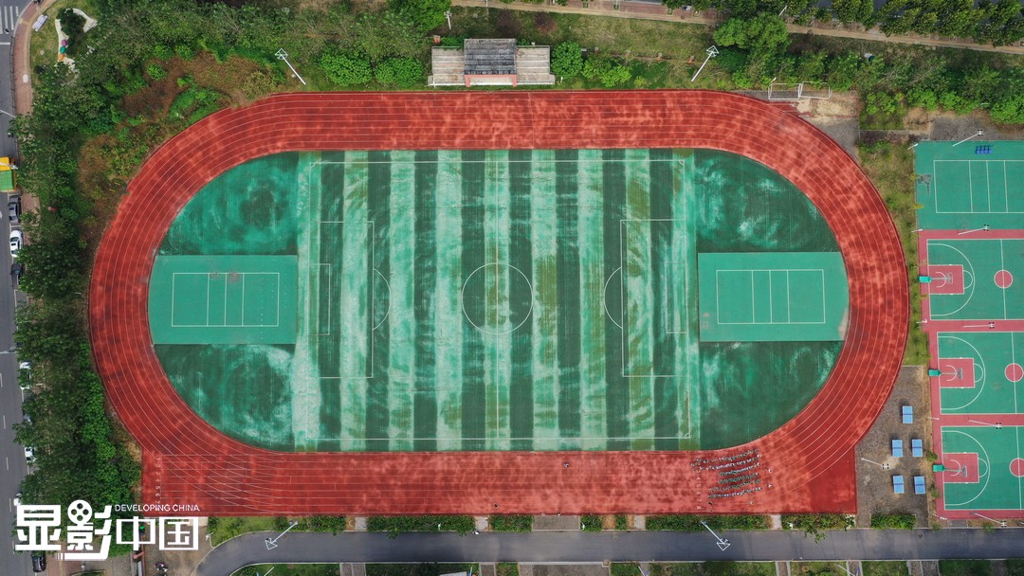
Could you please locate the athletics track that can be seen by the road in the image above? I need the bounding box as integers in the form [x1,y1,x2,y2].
[90,93,909,519]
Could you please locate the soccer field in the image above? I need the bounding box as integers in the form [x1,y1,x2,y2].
[148,150,850,451]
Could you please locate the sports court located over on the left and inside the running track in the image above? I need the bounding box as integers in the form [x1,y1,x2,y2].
[149,255,298,344]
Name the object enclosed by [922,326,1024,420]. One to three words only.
basketball court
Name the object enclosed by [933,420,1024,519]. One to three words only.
basketball court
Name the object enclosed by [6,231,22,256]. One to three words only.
car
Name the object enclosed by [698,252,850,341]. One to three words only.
sports court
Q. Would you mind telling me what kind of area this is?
sports ground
